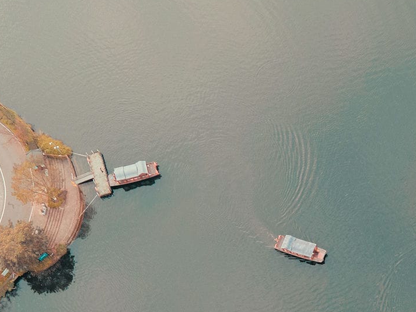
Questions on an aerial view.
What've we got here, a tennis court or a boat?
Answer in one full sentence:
Of the two, only a boat appears.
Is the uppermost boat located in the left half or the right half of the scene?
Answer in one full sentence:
It is on the left.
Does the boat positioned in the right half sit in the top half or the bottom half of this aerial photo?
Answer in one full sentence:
Seen from above, the boat positioned in the right half lies in the bottom half of the view.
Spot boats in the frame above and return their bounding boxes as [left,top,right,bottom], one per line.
[273,232,327,261]
[107,158,159,184]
